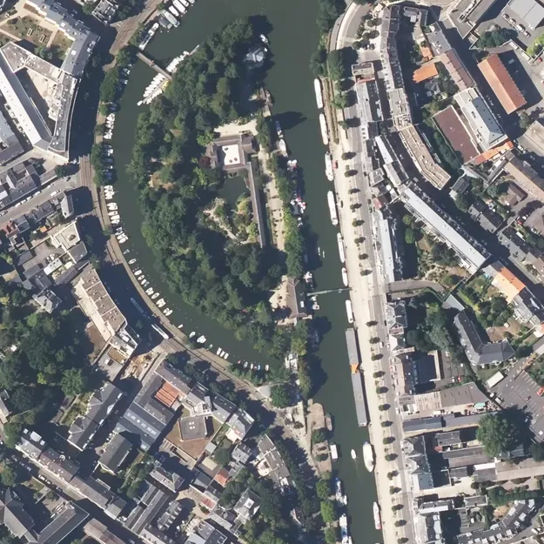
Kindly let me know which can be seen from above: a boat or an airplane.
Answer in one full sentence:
Looking from above, you can make out a boat.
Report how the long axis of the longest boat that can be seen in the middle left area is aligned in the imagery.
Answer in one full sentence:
In this picture, the longest boat that can be seen in the middle left area lies at an angle.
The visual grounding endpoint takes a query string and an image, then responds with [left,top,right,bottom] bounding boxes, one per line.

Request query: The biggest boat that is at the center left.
[115,271,146,309]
